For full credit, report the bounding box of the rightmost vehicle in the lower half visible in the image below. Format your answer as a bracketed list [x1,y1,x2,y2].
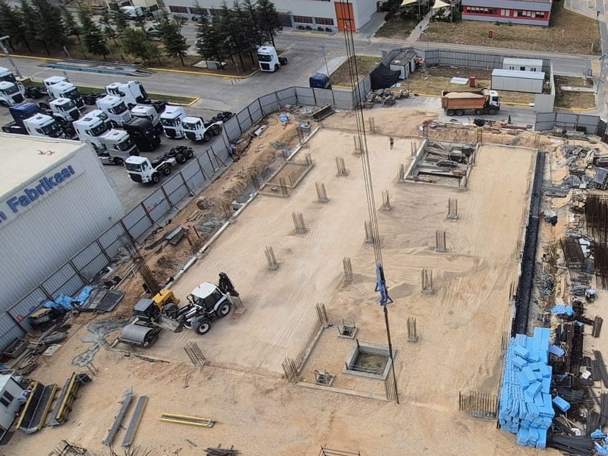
[157,269,244,355]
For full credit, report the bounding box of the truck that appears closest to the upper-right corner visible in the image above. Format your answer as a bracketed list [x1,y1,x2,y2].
[438,92,502,120]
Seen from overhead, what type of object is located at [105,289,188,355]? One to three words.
work vehicle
